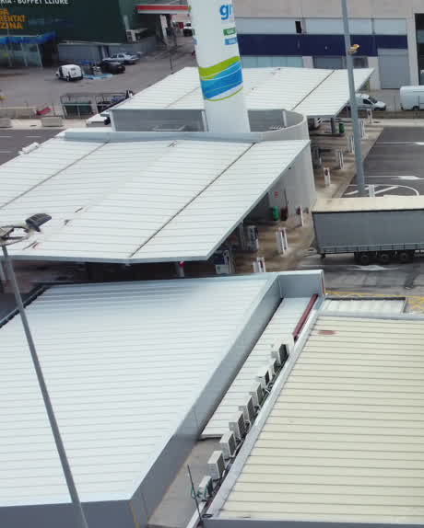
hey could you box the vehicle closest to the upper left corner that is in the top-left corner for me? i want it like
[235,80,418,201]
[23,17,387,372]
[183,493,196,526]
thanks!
[52,62,90,79]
